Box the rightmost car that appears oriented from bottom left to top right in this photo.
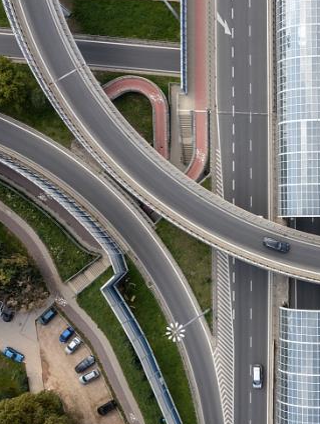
[96,399,118,417]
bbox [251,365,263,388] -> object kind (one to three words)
vehicle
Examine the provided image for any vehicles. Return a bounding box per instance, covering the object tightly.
[65,336,85,355]
[96,399,118,417]
[1,306,16,324]
[4,347,26,362]
[57,325,77,343]
[79,368,101,384]
[0,298,8,317]
[74,354,97,373]
[37,307,59,325]
[251,365,263,388]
